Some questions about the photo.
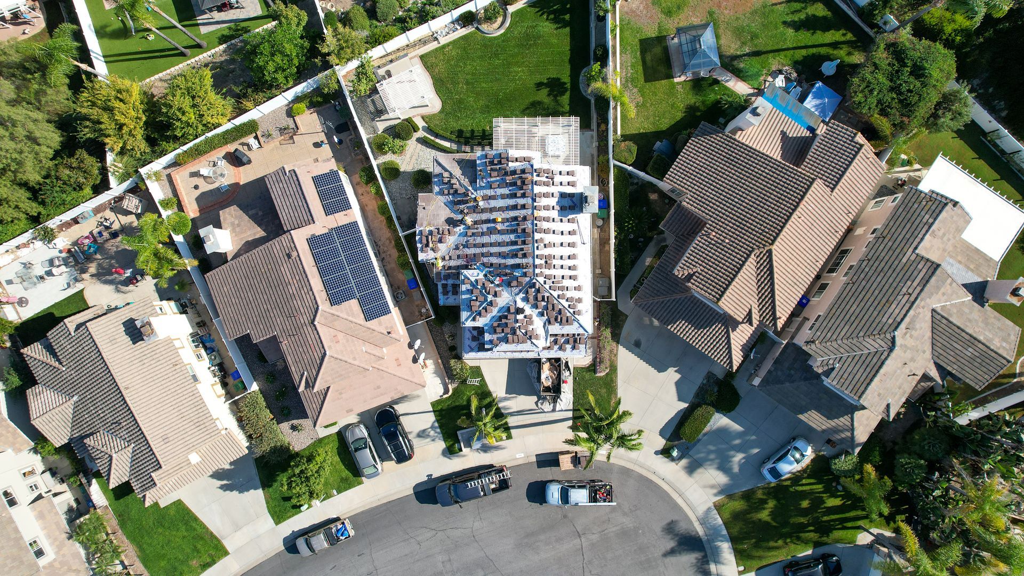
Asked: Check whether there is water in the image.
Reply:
No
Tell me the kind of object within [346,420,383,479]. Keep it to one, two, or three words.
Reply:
car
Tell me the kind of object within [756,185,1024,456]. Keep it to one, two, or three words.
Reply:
house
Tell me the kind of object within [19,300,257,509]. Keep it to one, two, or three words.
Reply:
house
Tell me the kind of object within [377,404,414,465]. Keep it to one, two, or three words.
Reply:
car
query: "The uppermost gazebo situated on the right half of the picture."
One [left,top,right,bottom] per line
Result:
[670,21,721,81]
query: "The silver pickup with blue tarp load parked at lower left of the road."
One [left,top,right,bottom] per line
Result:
[296,514,359,555]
